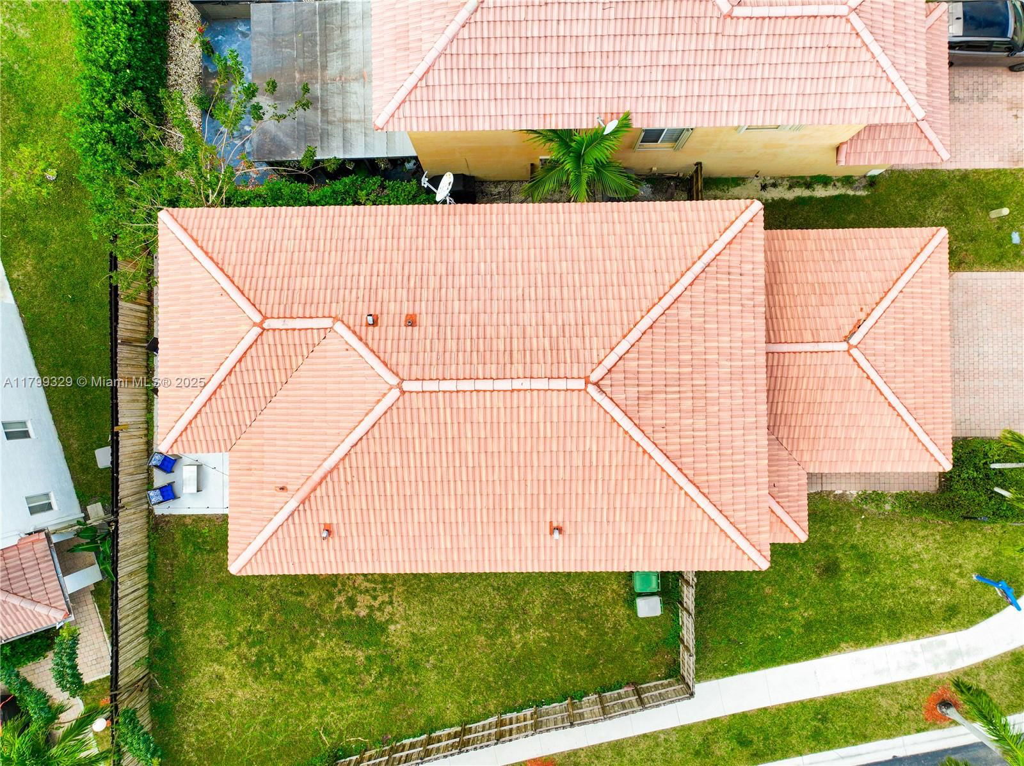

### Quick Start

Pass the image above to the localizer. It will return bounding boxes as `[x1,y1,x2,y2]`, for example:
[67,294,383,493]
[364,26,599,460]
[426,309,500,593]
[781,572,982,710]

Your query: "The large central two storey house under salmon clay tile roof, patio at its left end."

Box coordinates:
[146,194,958,580]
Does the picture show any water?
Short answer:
No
